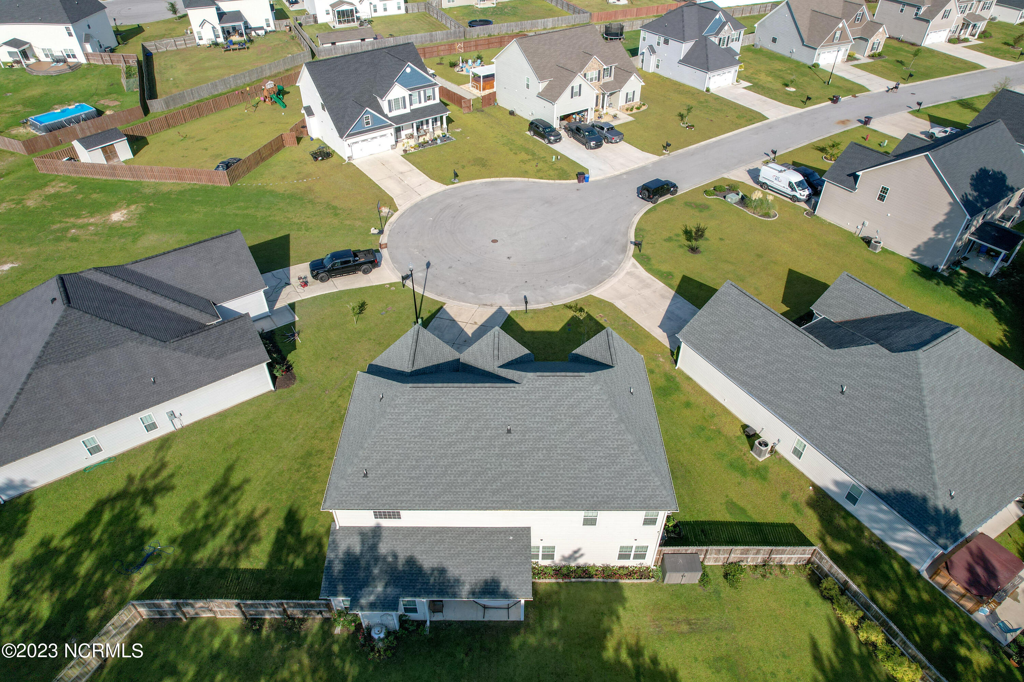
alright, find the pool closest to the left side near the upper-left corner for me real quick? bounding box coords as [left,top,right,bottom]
[29,102,100,134]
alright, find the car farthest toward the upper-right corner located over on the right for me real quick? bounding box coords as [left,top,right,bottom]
[921,121,949,140]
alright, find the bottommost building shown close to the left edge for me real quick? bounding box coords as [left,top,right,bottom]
[0,229,281,505]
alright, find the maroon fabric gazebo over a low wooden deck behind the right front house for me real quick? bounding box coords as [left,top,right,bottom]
[924,533,1024,619]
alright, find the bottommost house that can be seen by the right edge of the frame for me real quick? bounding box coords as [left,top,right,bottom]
[669,270,1024,573]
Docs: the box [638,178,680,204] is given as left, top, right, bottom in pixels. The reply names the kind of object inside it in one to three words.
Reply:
car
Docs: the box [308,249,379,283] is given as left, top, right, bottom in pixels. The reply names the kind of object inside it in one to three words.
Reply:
truck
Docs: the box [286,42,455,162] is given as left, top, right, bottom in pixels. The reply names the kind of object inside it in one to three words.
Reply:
house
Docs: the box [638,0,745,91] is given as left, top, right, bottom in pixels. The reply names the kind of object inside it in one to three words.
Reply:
house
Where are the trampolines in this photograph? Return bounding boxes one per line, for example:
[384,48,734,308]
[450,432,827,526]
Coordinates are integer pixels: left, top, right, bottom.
[603,23,626,43]
[468,19,493,28]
